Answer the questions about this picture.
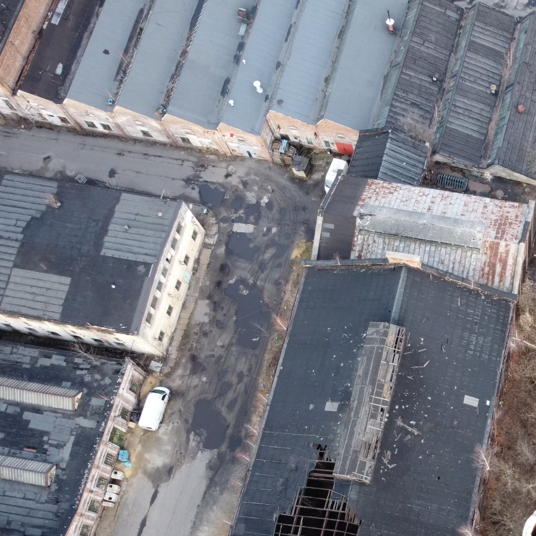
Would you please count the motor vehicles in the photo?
2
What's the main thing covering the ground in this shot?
buildings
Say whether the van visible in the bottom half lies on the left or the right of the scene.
left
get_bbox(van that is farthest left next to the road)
[135,388,171,429]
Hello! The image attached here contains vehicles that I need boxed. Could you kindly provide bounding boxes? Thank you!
[135,388,171,429]
[320,150,347,193]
